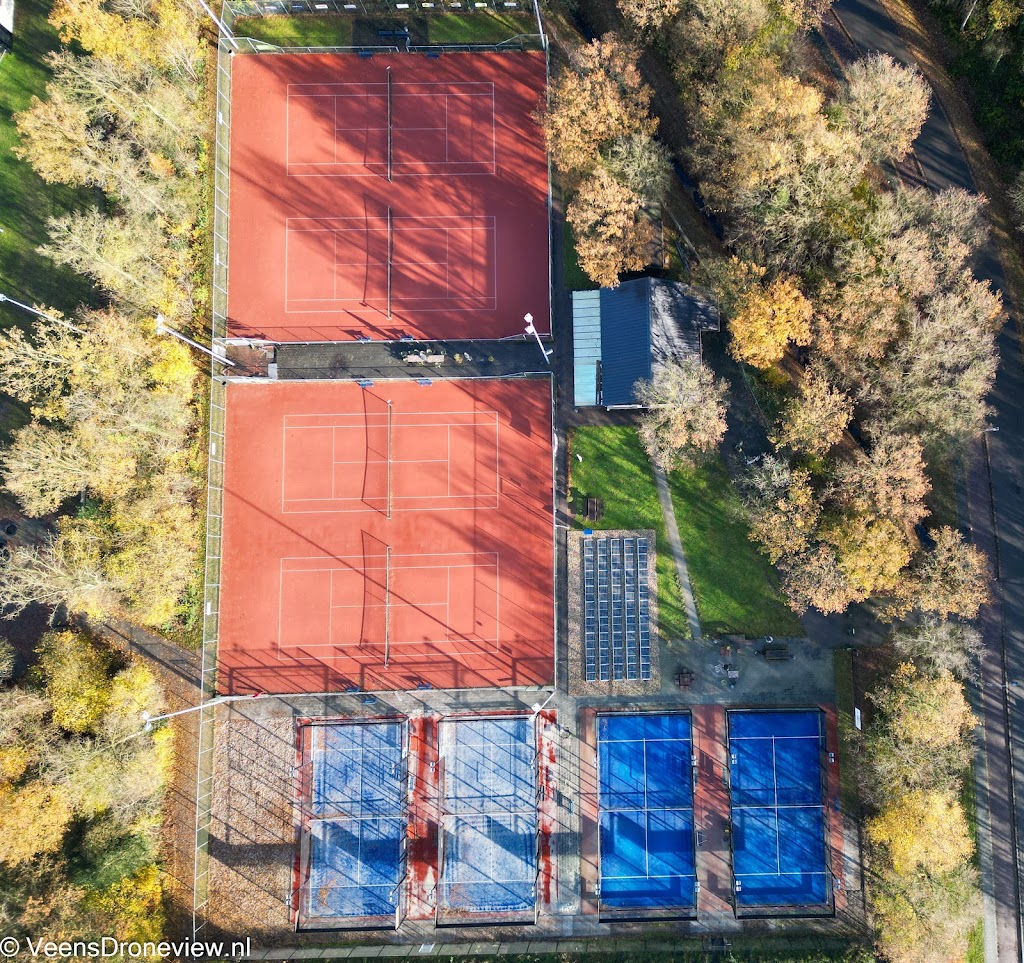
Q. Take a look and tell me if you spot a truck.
No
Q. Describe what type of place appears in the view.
sports ground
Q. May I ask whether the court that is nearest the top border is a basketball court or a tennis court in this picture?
tennis court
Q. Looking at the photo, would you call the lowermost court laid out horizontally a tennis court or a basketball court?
tennis court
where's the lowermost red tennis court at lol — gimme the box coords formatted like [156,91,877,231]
[217,529,555,695]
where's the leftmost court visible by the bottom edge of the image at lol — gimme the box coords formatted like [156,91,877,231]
[285,719,410,933]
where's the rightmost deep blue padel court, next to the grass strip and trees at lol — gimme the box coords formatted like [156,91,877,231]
[727,708,842,919]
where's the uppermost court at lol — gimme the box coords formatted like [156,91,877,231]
[230,51,549,194]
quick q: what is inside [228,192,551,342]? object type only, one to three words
tennis court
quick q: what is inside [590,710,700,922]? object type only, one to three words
sports court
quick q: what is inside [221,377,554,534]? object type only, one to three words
tennis court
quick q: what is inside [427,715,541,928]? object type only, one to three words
sports court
